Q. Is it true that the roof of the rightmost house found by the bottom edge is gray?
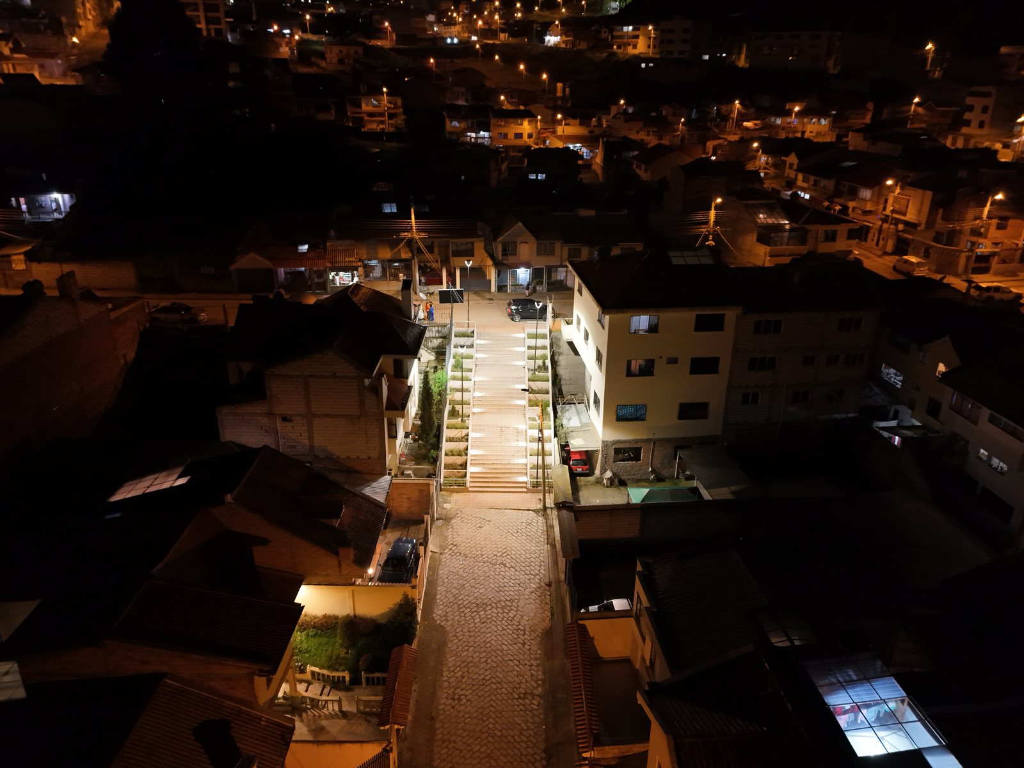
No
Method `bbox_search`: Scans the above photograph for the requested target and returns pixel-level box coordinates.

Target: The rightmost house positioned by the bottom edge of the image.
[764,577,1024,768]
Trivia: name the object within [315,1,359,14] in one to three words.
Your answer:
house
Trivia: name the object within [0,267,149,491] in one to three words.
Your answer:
building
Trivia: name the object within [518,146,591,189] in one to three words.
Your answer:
house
